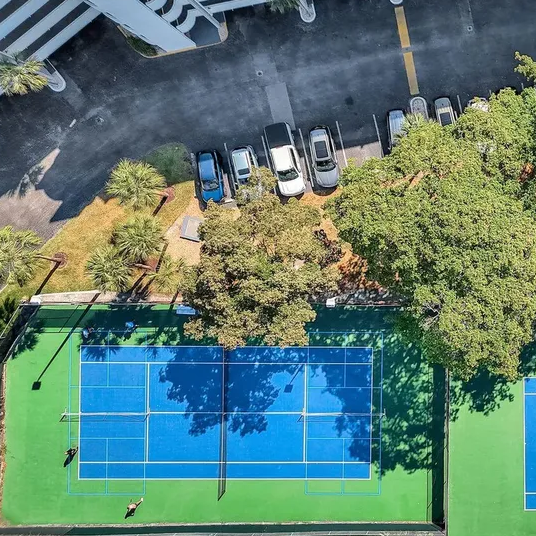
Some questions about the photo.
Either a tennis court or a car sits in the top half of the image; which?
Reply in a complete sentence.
You can see a car in the top half of the image.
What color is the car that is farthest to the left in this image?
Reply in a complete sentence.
From above, the car that is farthest to the left appears blue.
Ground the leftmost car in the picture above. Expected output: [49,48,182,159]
[195,151,227,204]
